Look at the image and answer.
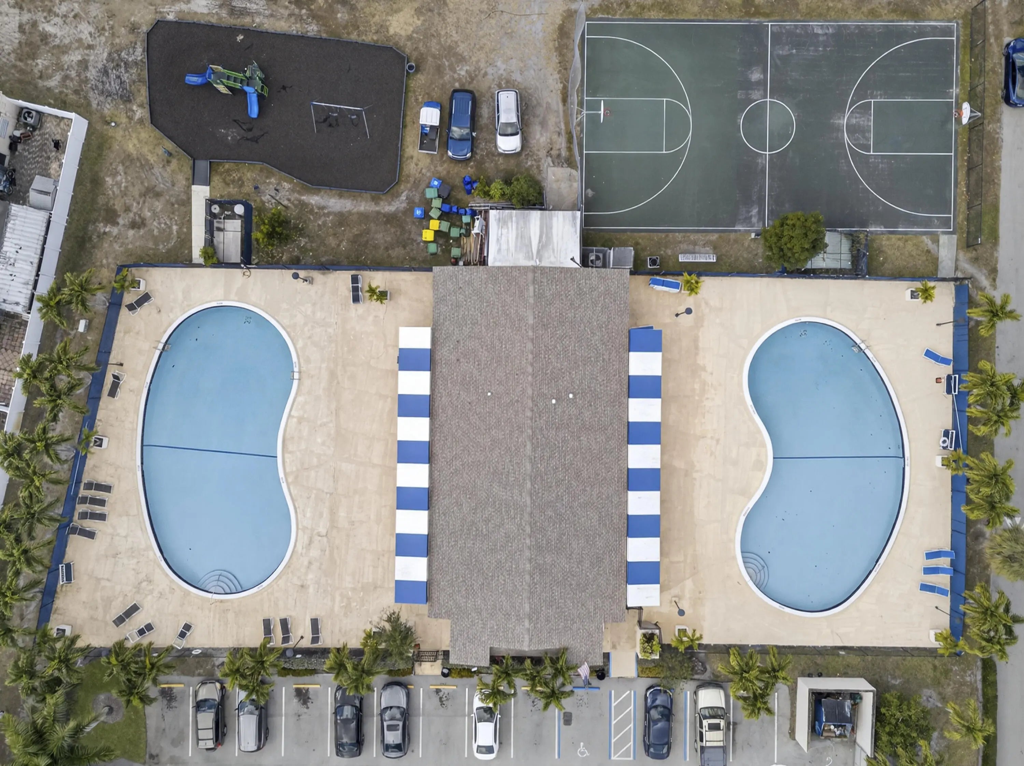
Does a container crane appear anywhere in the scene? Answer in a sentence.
No, there is no container crane in the image.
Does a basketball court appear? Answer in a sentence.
Yes, you can see a basketball court in this photo.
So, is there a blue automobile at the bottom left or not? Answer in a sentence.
No, at the bottom left there is no blue automobile.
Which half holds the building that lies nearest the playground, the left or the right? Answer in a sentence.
It is on the left.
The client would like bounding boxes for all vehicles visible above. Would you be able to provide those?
[444,86,477,161]
[377,681,411,759]
[234,682,271,756]
[1003,40,1024,108]
[416,99,444,156]
[642,683,676,760]
[493,87,525,155]
[192,680,229,752]
[332,686,365,760]
[470,686,502,761]
[694,681,730,766]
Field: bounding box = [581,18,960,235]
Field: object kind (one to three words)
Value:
basketball court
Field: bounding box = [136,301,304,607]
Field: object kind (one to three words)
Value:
swimming pool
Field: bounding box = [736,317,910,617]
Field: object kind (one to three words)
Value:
swimming pool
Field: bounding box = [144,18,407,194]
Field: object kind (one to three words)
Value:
playground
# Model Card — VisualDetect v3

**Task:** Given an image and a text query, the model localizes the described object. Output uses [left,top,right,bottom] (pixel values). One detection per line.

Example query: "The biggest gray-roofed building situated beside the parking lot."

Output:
[395,266,662,666]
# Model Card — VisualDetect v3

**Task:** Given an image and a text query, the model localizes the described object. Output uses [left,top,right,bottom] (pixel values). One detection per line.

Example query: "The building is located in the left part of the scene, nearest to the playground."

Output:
[215,220,246,264]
